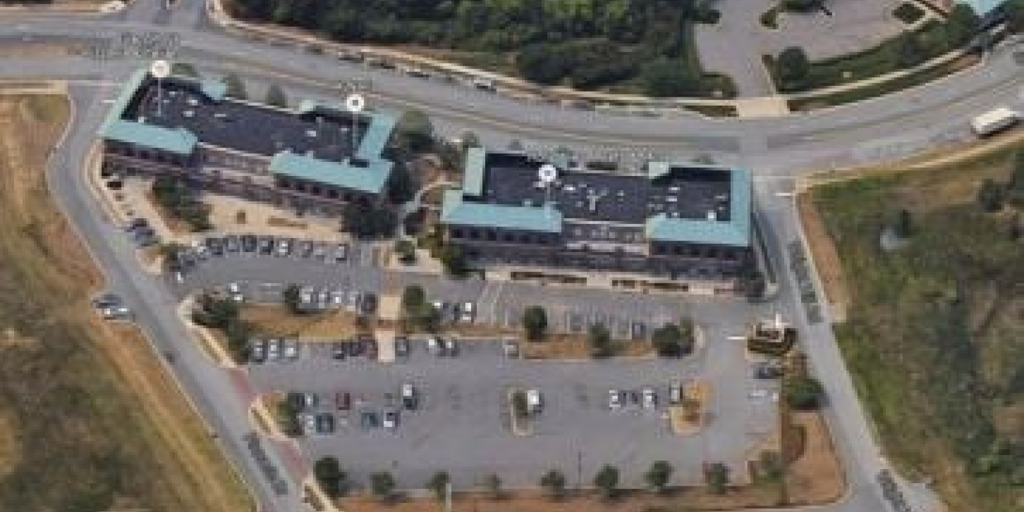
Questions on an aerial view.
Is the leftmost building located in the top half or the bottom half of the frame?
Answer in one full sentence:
The top half of the photo is where the leftmost building is.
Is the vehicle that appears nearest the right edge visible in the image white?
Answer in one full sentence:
Yes, the vehicle that appears nearest the right edge is white.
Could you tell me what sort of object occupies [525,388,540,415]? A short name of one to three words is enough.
vehicle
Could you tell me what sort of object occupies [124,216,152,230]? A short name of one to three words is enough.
car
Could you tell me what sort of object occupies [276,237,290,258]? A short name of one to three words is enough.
car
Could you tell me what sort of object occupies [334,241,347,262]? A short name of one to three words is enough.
vehicle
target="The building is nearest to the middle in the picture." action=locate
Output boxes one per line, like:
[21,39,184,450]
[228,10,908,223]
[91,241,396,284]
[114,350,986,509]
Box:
[442,146,751,283]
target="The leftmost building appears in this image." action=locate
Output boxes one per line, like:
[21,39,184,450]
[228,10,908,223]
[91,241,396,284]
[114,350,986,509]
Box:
[102,69,404,220]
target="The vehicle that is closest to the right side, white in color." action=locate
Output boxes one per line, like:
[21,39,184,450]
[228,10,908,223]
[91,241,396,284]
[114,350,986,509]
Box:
[973,107,1018,135]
